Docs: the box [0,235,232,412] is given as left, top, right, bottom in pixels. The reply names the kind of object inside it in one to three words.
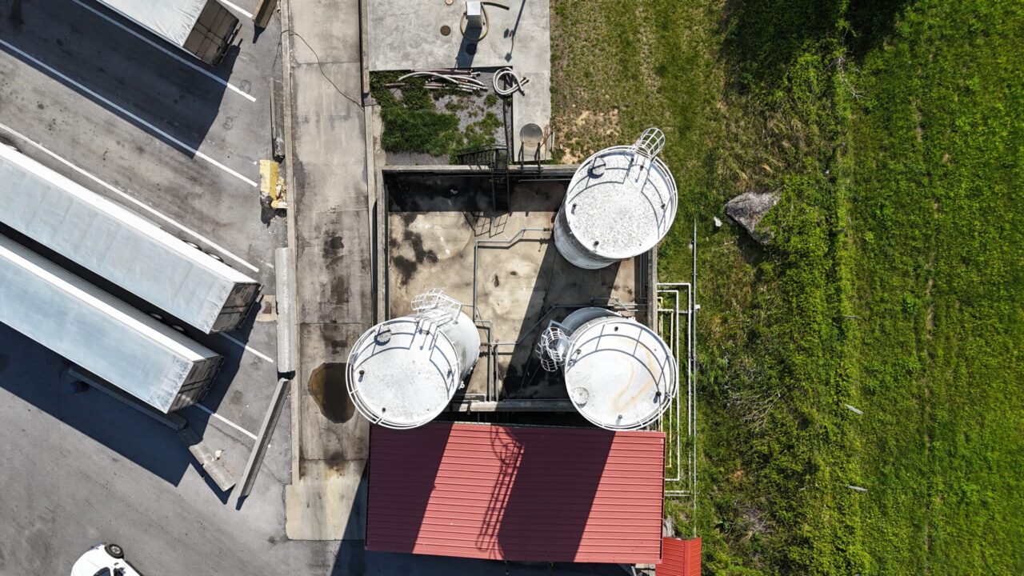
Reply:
trailer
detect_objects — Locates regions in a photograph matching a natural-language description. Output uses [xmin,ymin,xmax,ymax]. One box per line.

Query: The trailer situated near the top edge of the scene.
[89,0,246,72]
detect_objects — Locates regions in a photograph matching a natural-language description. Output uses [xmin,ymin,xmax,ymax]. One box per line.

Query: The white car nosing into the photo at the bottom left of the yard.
[72,543,141,576]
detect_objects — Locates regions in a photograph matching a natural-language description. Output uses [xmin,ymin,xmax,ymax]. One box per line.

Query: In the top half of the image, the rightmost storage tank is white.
[551,123,679,270]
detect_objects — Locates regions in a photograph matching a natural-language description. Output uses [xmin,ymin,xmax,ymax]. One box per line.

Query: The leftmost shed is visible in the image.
[365,413,667,565]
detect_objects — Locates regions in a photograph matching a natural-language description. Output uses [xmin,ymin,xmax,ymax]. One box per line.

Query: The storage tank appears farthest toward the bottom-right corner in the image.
[533,306,679,431]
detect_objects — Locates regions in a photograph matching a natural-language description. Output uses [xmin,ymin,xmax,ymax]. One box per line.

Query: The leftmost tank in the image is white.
[346,287,484,429]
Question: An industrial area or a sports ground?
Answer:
industrial area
